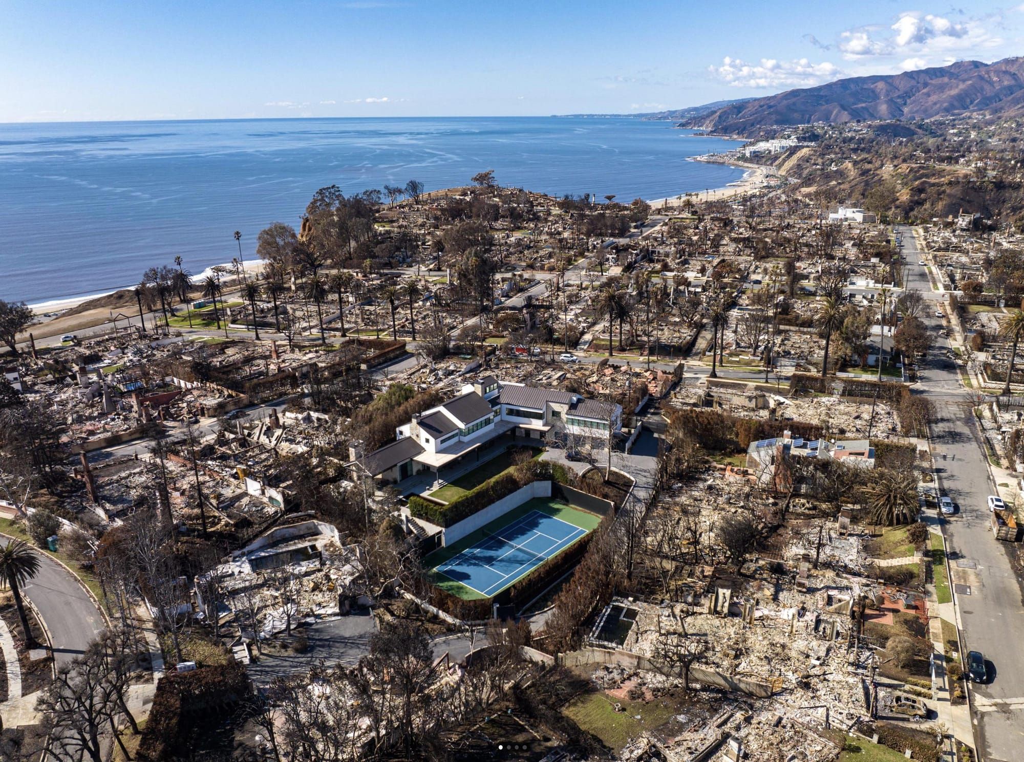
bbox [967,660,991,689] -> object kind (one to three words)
car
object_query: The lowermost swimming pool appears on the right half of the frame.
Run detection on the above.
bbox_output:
[591,603,641,643]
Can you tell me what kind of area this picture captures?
residential area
